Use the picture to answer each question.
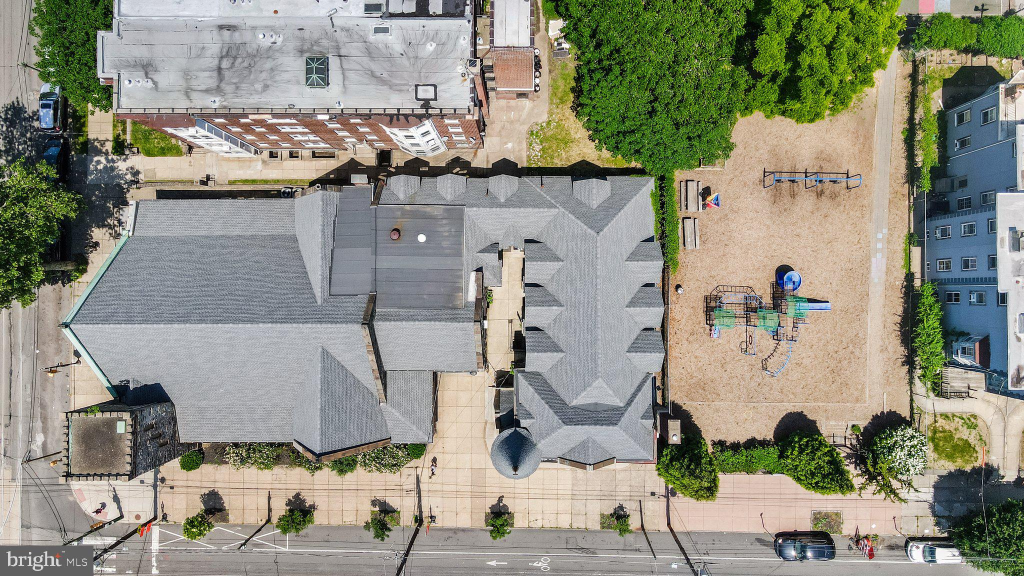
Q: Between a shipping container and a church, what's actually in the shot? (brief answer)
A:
church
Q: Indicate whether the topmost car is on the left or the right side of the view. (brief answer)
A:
left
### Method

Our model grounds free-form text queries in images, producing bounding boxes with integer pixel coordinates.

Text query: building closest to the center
[385,172,682,476]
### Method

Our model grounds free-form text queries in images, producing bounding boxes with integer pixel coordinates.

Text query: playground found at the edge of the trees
[668,45,915,445]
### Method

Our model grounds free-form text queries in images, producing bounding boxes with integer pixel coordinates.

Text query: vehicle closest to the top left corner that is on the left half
[36,84,70,138]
